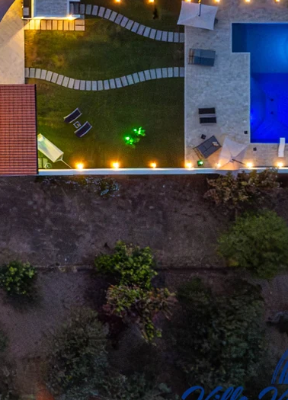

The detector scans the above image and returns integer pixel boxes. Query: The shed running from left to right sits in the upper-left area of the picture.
[30,0,80,21]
